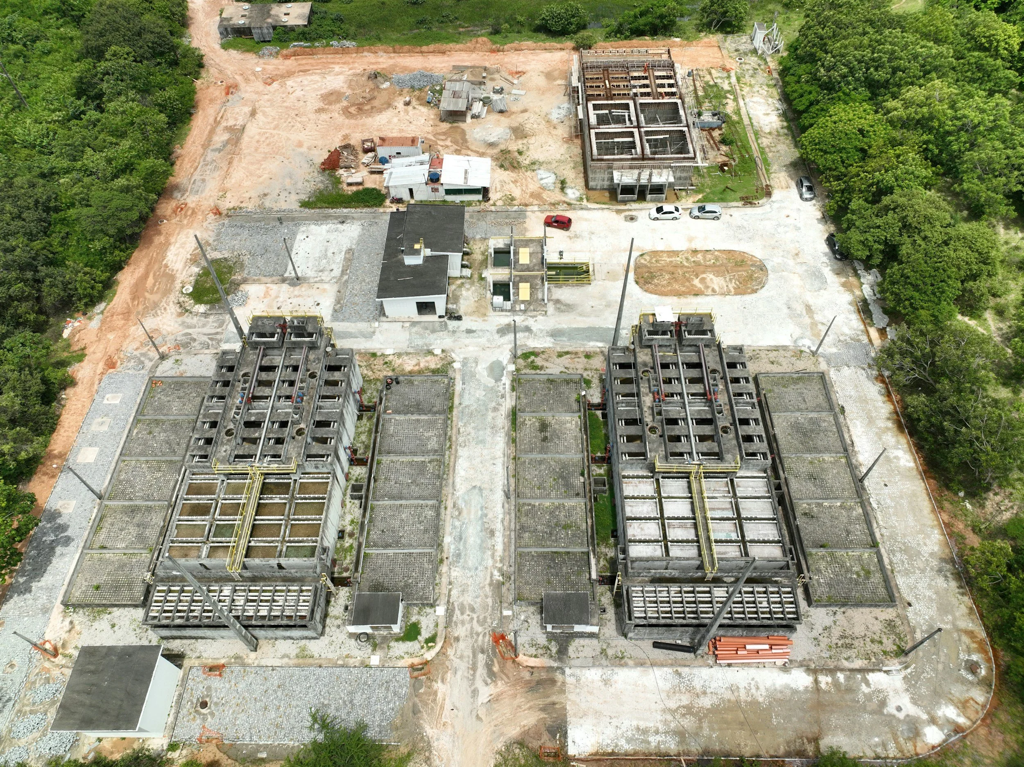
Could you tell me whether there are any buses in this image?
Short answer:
No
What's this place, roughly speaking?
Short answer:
industrial area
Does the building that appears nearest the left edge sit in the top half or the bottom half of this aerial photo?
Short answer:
bottom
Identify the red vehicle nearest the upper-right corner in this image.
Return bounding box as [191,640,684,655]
[543,212,573,230]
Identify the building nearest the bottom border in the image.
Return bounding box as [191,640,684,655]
[51,645,181,737]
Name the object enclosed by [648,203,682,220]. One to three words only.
car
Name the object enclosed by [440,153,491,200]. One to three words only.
building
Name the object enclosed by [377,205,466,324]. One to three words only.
building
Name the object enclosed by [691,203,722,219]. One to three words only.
car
